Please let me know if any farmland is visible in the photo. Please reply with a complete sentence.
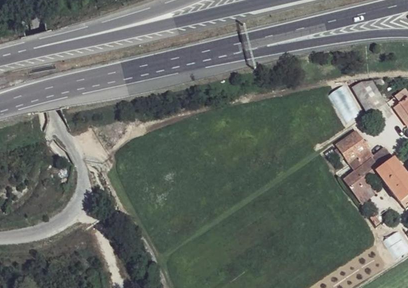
Yes, farmland can be seen from above here.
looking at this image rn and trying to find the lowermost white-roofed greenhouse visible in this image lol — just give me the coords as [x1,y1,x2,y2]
[383,232,408,259]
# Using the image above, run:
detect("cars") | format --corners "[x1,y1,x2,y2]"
[394,126,402,136]
[372,144,383,154]
[353,15,365,21]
